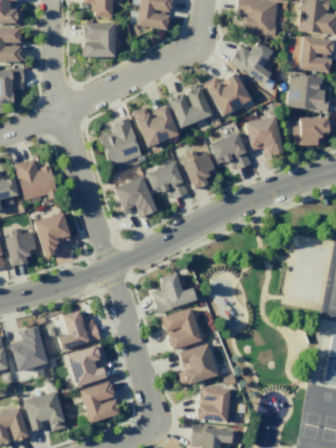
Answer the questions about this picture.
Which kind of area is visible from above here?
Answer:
residential area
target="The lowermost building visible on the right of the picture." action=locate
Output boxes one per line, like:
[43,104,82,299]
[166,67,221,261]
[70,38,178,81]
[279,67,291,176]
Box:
[190,424,234,448]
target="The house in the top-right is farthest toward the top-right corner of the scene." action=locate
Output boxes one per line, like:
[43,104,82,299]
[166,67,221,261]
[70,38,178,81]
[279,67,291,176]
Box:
[299,0,336,34]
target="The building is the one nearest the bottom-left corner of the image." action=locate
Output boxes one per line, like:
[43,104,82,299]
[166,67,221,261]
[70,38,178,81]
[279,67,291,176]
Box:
[0,407,28,446]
